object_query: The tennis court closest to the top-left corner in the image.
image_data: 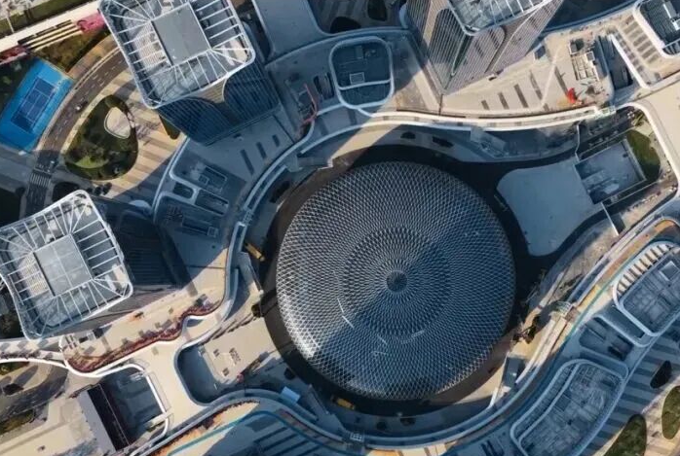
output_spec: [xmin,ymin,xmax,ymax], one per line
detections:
[0,59,74,151]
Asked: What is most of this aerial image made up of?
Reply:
buildings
